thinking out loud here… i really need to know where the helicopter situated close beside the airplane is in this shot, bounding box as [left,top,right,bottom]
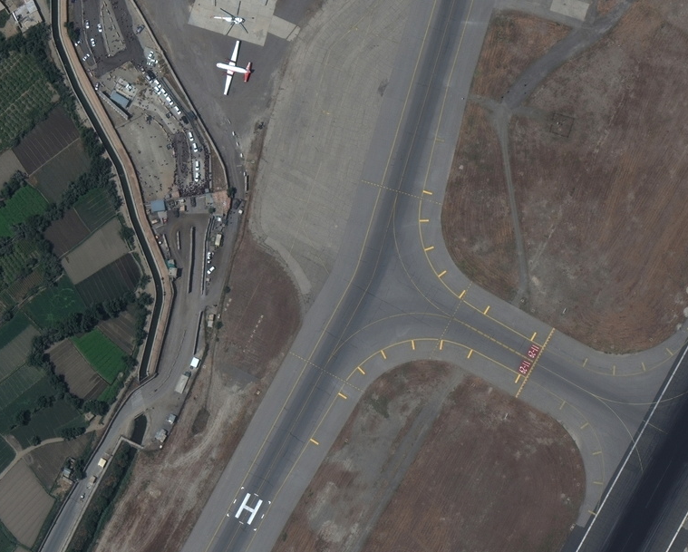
[209,2,252,34]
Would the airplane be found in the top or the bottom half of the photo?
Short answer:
top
